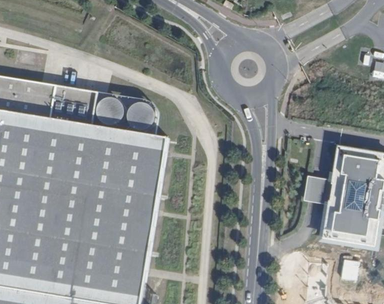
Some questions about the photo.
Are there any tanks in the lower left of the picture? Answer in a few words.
No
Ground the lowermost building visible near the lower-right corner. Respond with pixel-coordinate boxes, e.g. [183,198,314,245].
[342,260,360,282]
